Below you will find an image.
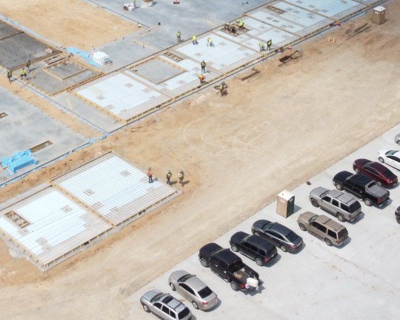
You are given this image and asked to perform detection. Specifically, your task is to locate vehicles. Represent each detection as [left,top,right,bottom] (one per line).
[331,169,394,207]
[305,186,365,223]
[138,286,195,320]
[225,229,284,268]
[293,209,352,247]
[164,266,222,310]
[347,156,400,187]
[372,146,400,168]
[247,215,305,253]
[196,242,266,292]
